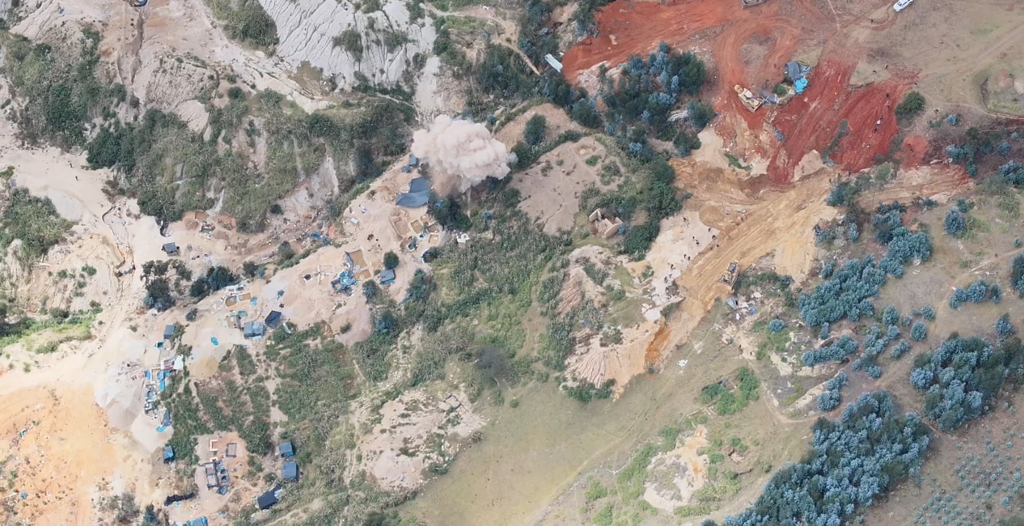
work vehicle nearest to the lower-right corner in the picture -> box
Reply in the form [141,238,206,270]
[717,255,742,281]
